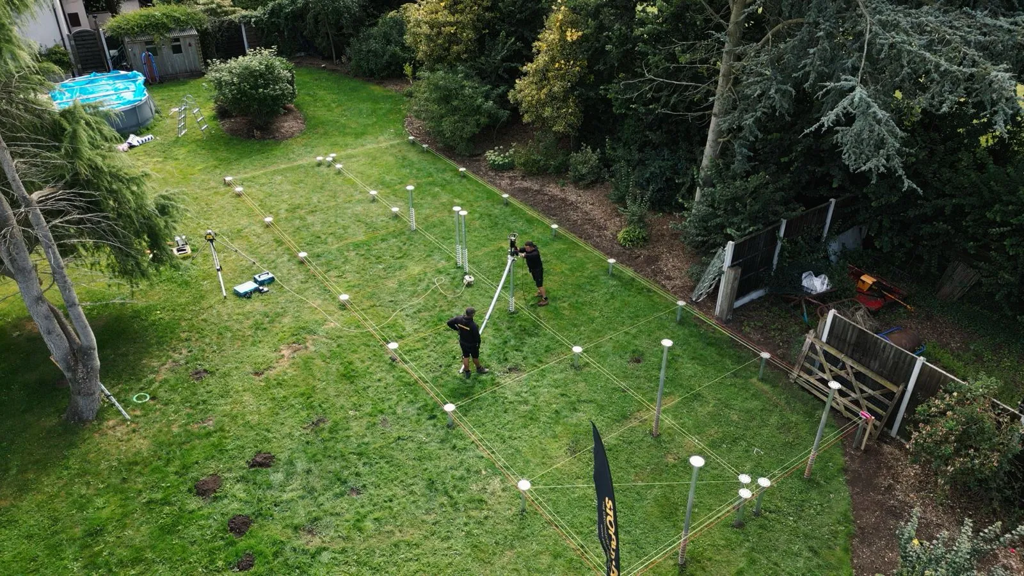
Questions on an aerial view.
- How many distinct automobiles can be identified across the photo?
none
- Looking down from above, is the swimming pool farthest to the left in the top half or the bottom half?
top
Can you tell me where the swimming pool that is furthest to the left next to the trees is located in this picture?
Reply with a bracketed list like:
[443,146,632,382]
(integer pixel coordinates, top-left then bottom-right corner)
[45,68,172,133]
